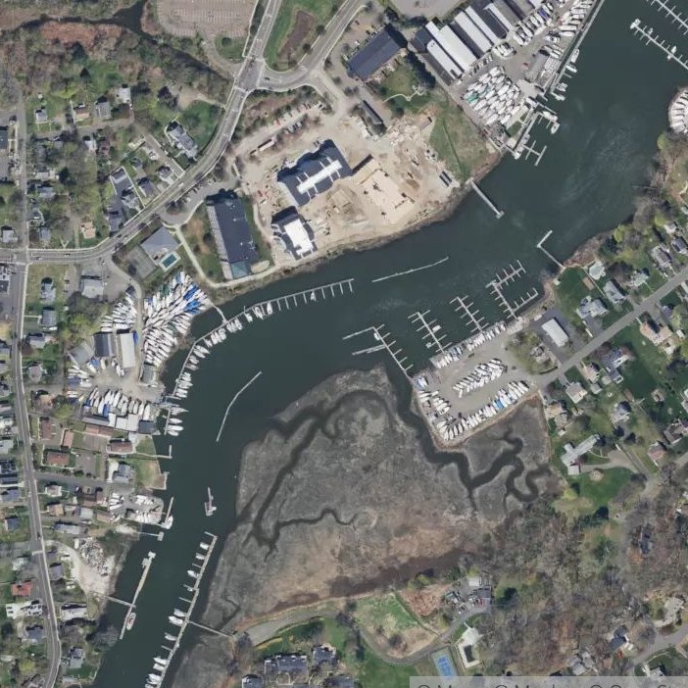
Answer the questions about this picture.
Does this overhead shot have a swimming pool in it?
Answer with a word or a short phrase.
Yes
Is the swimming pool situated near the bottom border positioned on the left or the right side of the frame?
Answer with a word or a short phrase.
right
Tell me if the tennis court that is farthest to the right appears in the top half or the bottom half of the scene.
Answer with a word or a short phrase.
bottom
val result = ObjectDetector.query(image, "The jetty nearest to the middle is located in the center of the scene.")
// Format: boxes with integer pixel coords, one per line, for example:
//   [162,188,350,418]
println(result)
[342,324,415,380]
